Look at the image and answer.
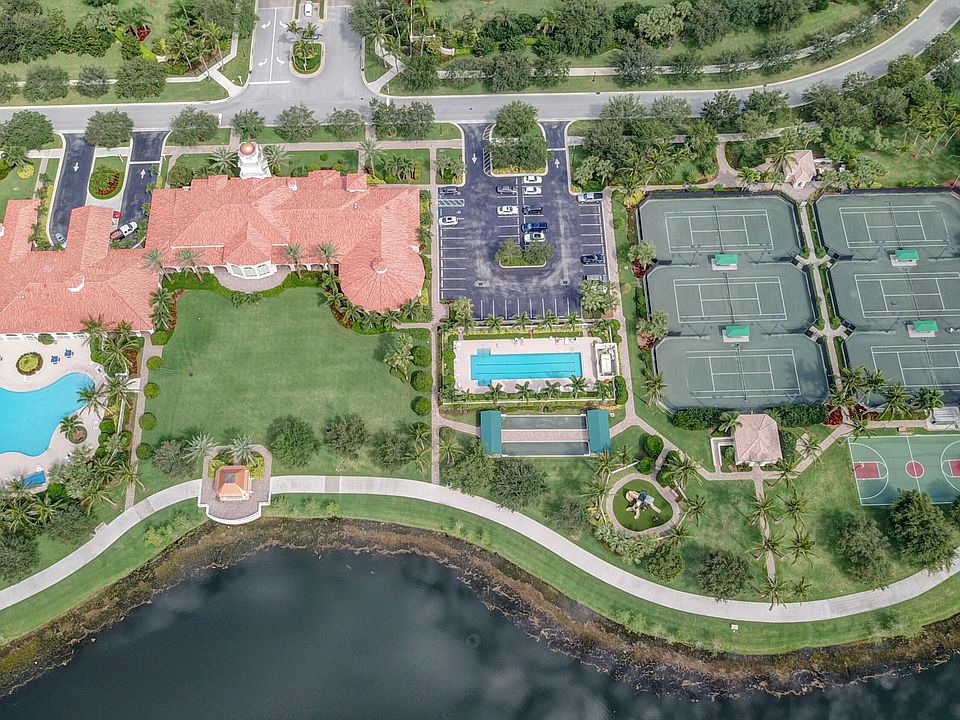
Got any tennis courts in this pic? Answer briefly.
Yes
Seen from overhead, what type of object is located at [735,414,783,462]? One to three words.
building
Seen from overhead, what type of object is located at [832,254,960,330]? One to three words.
tennis court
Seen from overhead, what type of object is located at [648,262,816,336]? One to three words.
tennis court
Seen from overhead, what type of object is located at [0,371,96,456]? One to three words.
swimming pool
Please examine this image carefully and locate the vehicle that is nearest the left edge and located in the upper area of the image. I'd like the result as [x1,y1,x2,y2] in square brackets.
[52,229,66,246]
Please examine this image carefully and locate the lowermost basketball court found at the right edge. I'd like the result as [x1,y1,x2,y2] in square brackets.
[848,432,960,506]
